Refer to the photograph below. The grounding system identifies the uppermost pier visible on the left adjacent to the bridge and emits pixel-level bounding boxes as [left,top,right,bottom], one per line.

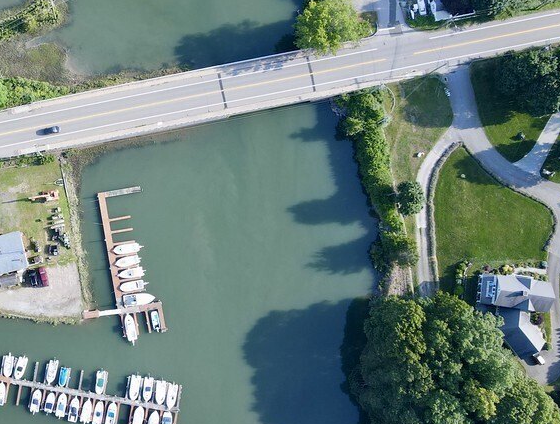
[81,186,168,339]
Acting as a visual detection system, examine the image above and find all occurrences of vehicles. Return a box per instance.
[417,0,427,16]
[534,354,546,365]
[45,246,58,254]
[45,127,60,135]
[29,270,37,288]
[39,266,49,287]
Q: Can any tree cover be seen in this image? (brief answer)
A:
Yes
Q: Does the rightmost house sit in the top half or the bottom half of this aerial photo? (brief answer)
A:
bottom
